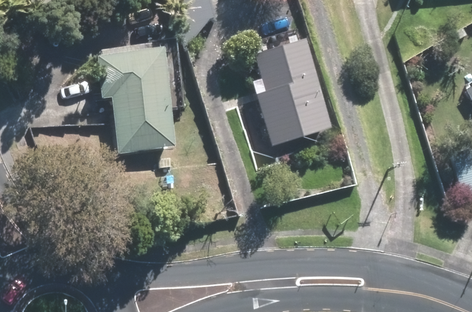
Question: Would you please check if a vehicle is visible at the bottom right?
No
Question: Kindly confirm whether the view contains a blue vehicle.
Yes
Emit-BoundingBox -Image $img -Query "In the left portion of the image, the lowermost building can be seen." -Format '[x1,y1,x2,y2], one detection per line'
[98,45,175,154]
